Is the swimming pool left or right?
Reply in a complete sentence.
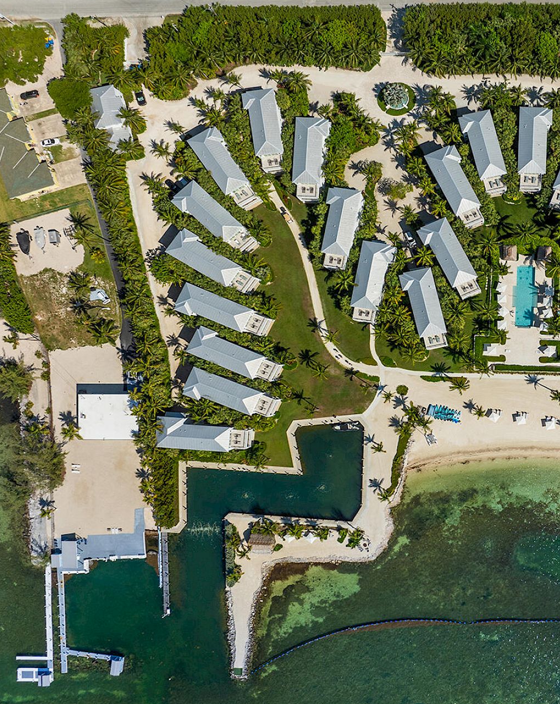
You can find the swimming pool on the right side of the picture.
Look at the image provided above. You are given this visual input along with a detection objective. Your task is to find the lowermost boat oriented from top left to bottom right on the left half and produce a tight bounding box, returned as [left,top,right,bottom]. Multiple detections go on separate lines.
[89,287,108,305]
